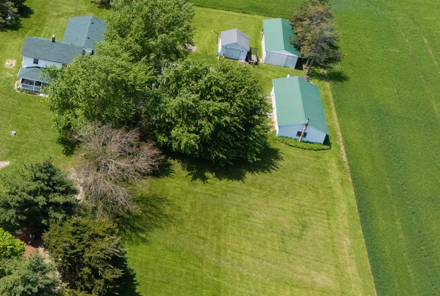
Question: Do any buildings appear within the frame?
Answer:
Yes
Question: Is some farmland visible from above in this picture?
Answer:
Yes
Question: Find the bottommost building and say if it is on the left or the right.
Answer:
right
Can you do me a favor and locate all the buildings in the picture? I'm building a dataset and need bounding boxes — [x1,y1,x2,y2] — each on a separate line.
[16,14,113,94]
[272,77,329,143]
[261,18,307,68]
[218,28,250,57]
